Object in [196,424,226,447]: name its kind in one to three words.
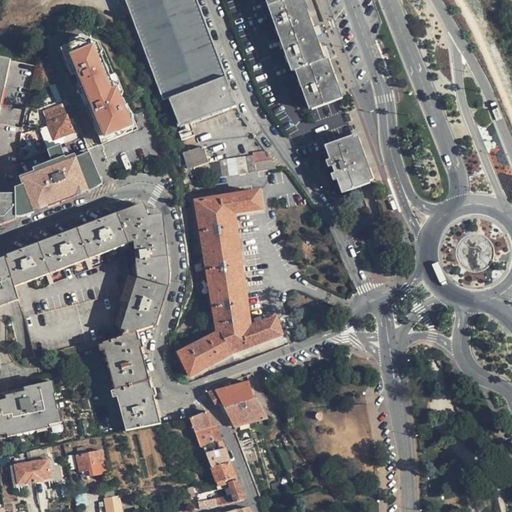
house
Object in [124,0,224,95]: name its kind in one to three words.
building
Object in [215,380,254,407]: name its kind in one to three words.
house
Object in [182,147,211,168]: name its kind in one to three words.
shed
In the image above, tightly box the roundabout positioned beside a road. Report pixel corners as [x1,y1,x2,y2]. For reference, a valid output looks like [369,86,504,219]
[417,194,512,311]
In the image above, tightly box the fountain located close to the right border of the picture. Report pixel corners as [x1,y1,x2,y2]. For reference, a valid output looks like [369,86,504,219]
[456,232,495,272]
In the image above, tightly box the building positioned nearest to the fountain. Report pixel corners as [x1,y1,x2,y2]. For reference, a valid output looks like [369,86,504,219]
[324,134,374,192]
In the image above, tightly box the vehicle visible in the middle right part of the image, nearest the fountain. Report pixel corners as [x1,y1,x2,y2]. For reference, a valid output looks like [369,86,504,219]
[435,262,448,284]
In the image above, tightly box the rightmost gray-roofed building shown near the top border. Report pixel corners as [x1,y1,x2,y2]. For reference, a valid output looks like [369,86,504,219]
[264,0,342,111]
